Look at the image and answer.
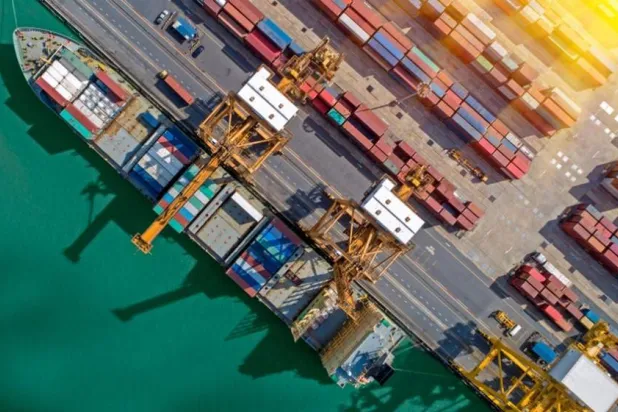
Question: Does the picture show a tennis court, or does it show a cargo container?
cargo container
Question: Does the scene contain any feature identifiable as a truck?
Yes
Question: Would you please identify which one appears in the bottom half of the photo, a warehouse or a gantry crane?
gantry crane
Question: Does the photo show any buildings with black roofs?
No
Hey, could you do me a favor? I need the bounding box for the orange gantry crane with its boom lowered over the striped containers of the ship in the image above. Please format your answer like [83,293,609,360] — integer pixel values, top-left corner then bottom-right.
[124,27,340,261]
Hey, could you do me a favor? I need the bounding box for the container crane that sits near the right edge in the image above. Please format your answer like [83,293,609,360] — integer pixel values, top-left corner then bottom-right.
[445,308,618,412]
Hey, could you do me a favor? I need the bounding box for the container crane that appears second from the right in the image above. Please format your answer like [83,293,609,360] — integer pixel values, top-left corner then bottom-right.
[300,156,448,341]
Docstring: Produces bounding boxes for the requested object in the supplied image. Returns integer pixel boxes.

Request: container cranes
[124,27,340,261]
[445,308,618,412]
[300,156,448,341]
